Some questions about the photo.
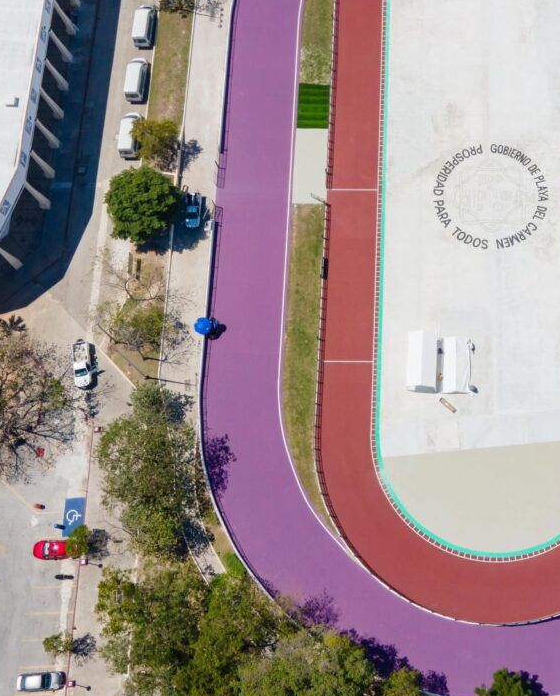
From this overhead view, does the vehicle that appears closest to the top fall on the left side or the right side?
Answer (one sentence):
The vehicle that appears closest to the top is on the left side of the image.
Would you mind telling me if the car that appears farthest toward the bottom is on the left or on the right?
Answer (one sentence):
You can find the car that appears farthest toward the bottom on the left side of the picture.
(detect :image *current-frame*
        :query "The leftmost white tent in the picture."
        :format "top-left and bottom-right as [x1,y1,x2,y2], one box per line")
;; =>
[406,332,439,389]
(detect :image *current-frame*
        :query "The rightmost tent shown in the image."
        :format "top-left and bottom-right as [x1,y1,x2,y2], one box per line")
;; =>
[443,337,474,394]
